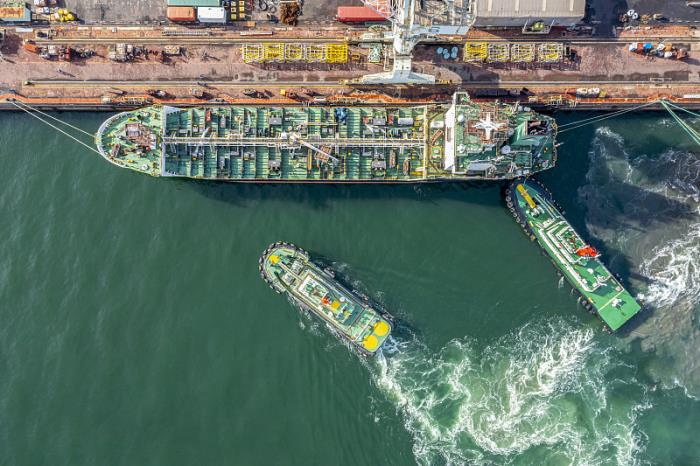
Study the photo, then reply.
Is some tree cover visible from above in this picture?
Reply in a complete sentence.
No, the picture contains no tree cover.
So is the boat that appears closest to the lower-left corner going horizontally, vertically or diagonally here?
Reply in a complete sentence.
The boat that appears closest to the lower-left corner is oriented diagonally.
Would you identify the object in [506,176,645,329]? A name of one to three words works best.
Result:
boat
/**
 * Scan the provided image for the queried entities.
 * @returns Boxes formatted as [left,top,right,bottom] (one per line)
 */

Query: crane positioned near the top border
[360,0,481,85]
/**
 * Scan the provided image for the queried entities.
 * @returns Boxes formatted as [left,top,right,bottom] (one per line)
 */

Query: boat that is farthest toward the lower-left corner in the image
[261,241,397,358]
